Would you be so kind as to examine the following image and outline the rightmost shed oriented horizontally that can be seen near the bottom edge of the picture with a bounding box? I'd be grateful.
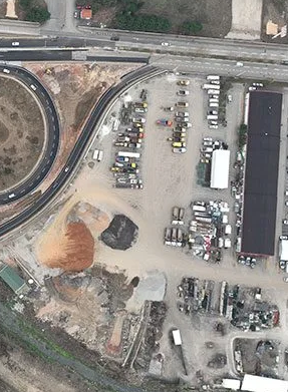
[239,372,288,392]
